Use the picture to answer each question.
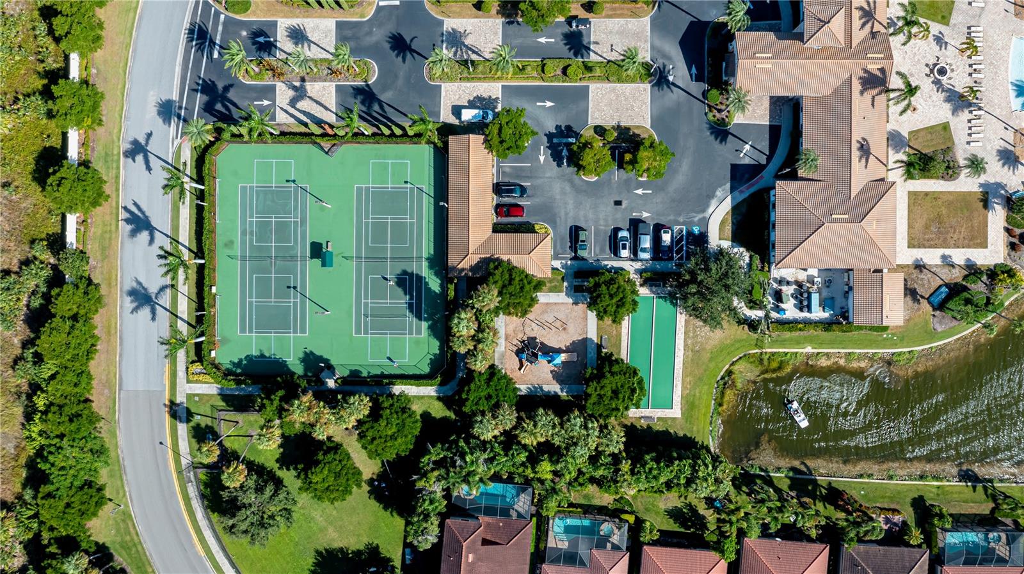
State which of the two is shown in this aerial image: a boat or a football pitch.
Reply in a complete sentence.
The image shows a boat.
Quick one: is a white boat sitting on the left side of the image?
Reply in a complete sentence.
No, no white boat appears on the left side of the image.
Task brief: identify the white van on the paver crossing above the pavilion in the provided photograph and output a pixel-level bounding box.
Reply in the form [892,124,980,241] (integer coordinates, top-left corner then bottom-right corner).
[461,106,492,122]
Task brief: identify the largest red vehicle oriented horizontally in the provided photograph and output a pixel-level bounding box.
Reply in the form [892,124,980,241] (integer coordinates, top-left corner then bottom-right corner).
[496,203,524,217]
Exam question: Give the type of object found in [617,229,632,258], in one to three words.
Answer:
car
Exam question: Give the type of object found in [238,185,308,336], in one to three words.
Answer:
tennis court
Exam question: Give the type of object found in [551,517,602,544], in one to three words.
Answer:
swimming pool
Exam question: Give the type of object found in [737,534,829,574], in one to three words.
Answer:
house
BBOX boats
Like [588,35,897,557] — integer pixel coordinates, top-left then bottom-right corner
[785,400,809,428]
